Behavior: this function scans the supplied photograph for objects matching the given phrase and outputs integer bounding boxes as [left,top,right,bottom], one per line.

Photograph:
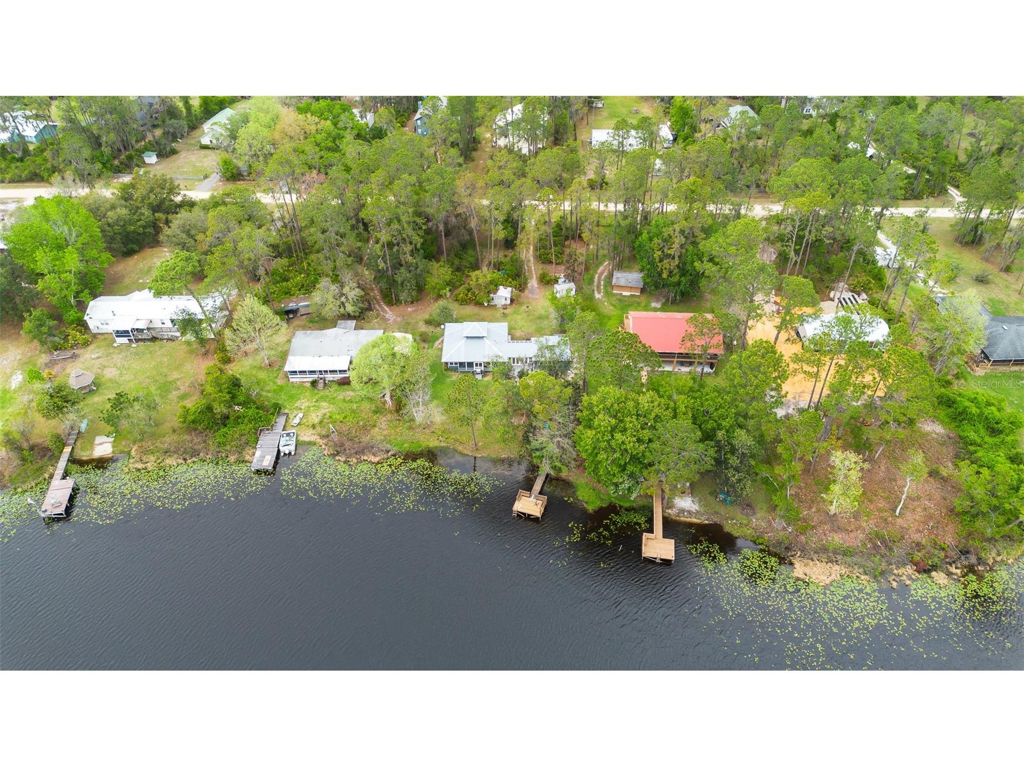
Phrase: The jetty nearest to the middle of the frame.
[512,472,548,523]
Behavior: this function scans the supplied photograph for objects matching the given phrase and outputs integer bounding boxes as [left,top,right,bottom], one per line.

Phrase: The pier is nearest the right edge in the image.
[642,481,675,566]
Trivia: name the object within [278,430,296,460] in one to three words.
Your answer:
boat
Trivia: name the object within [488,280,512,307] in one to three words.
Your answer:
shed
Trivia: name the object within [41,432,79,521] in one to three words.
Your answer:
pier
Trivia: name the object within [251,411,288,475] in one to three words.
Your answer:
pier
